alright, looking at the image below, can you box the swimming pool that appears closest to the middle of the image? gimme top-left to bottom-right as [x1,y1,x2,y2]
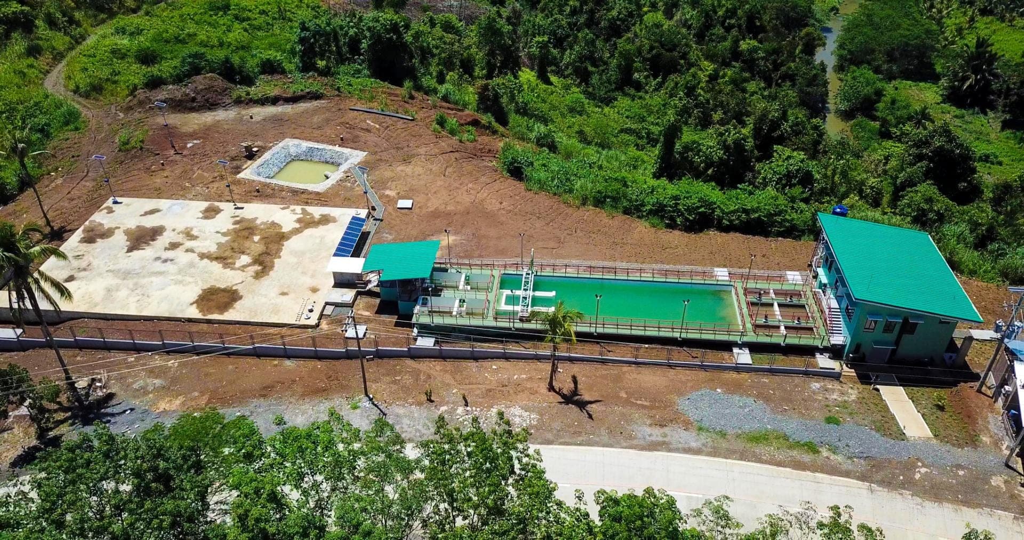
[496,276,740,329]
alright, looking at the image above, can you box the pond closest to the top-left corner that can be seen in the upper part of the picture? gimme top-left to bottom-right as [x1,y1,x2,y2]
[238,138,367,192]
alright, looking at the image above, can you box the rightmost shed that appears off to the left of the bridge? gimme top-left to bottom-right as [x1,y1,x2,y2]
[362,237,441,314]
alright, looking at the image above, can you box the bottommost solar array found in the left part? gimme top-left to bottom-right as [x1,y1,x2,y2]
[331,214,368,256]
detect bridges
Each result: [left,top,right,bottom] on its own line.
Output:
[515,262,537,326]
